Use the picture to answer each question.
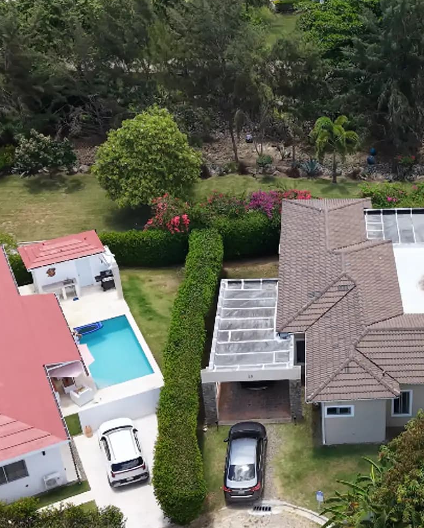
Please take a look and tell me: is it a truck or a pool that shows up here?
pool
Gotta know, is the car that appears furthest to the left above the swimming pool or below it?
below it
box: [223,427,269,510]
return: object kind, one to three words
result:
car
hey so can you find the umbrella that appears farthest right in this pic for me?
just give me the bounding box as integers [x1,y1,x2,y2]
[77,348,101,381]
